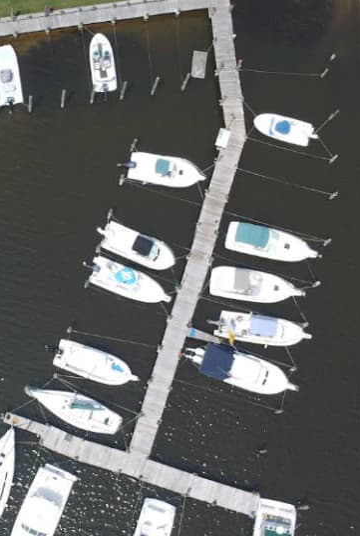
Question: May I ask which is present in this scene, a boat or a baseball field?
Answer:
boat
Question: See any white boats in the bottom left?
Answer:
Yes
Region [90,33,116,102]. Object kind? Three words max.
boat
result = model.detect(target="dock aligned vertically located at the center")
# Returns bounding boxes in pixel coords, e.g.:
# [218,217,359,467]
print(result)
[131,0,248,452]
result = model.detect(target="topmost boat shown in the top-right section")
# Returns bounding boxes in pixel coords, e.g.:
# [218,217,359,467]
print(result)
[254,115,320,144]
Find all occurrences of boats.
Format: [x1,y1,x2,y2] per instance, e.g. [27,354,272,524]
[254,115,320,144]
[209,268,302,303]
[25,388,122,436]
[220,222,317,261]
[131,496,177,536]
[0,429,15,516]
[0,46,23,115]
[96,221,177,268]
[45,339,139,383]
[11,454,84,536]
[203,309,312,349]
[83,257,171,300]
[117,153,206,186]
[90,33,116,102]
[181,340,300,394]
[250,497,299,536]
